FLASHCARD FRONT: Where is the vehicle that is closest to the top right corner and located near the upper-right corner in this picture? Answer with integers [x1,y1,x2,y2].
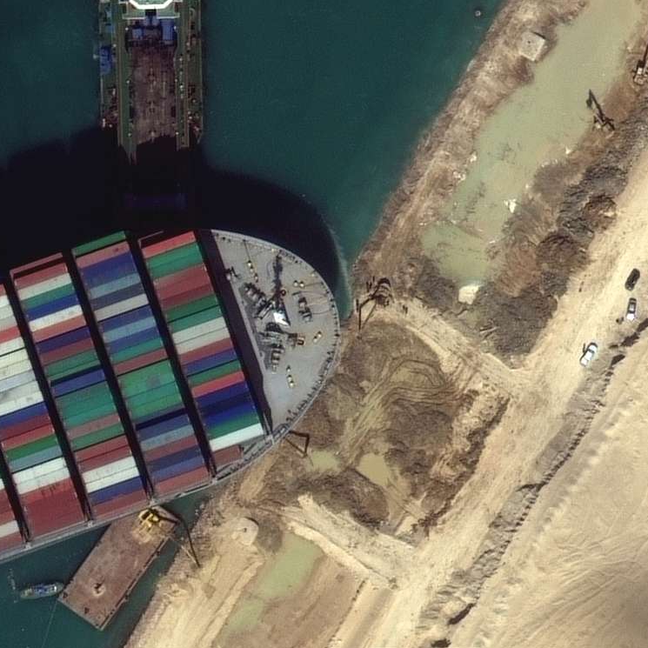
[629,43,648,90]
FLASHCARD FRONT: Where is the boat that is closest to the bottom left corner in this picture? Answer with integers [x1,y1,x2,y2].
[18,582,64,599]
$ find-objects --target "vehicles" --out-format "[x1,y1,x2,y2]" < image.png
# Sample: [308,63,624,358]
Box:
[629,43,648,90]
[625,268,640,290]
[278,431,310,459]
[581,342,597,365]
[626,297,637,320]
[591,90,615,138]
[357,273,398,332]
[140,505,202,571]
